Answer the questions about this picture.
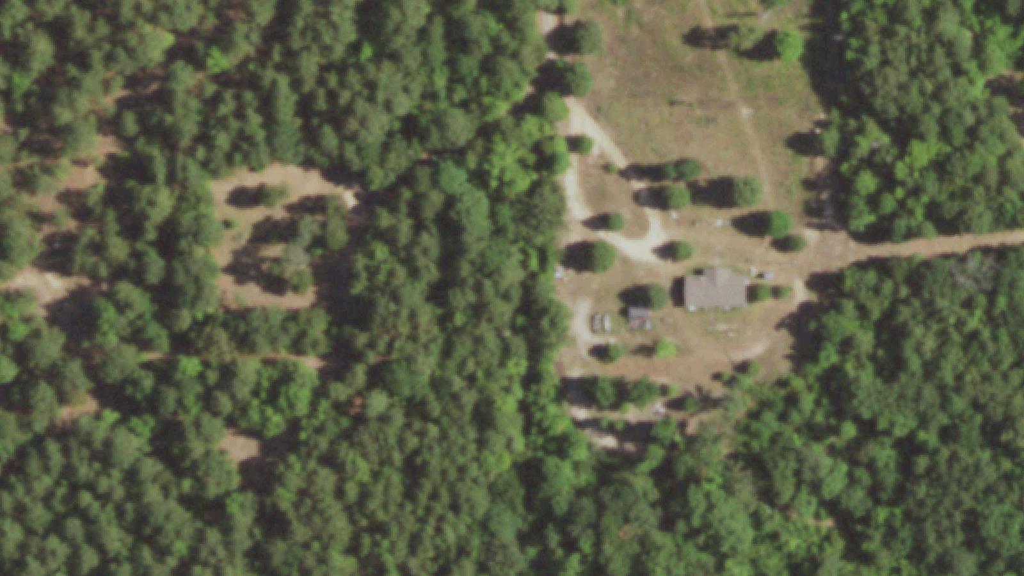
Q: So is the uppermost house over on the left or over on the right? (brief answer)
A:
right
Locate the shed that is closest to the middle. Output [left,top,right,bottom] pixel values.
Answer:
[629,308,649,328]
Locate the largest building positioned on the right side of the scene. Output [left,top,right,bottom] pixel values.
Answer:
[685,266,748,309]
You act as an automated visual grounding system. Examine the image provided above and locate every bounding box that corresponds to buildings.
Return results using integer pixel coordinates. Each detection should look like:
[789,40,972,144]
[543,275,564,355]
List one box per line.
[629,308,649,328]
[685,266,748,309]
